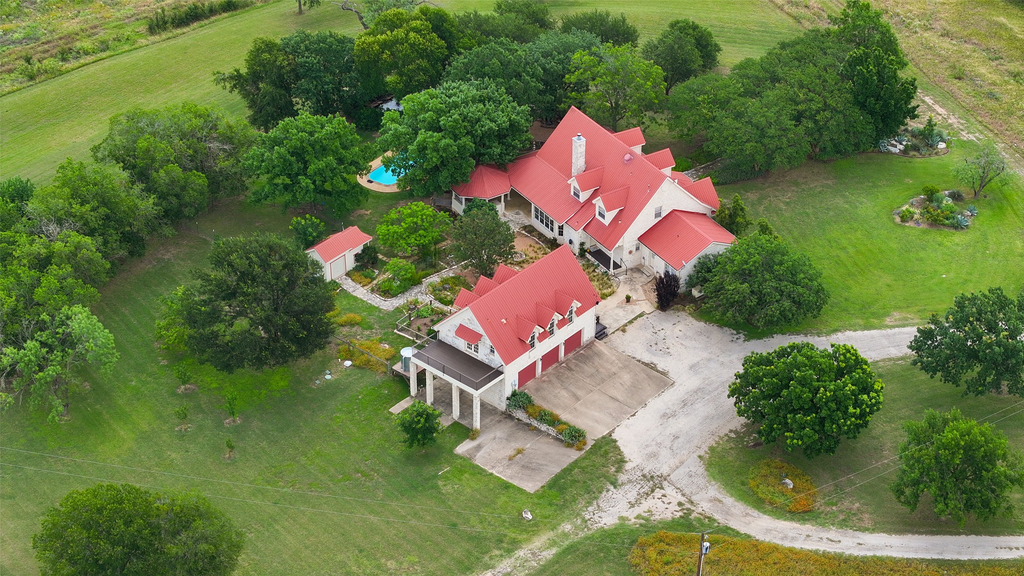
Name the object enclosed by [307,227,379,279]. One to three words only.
shed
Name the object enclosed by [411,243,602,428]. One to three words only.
building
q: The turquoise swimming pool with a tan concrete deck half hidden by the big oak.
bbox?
[358,146,432,192]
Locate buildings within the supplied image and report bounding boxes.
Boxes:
[411,243,602,428]
[307,227,379,279]
[448,106,744,293]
